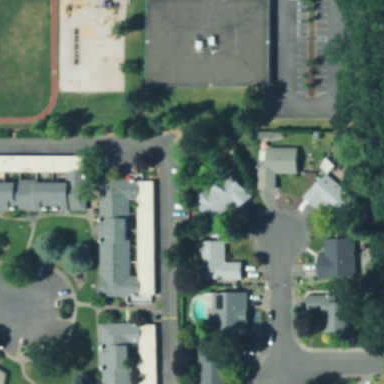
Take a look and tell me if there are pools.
Yes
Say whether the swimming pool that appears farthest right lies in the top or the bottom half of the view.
bottom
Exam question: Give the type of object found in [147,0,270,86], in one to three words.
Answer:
building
